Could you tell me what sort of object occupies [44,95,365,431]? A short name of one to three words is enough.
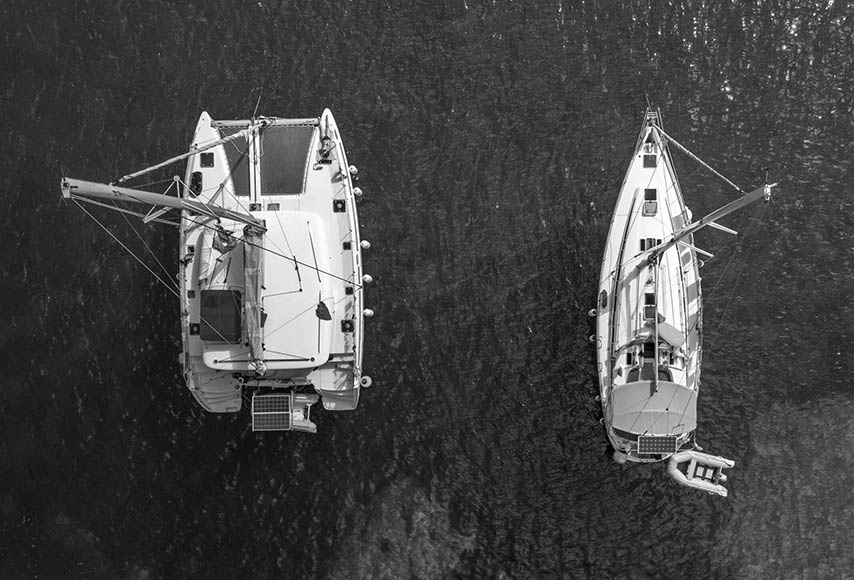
boat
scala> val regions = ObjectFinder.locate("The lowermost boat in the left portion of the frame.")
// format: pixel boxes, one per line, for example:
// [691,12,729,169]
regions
[249,392,321,433]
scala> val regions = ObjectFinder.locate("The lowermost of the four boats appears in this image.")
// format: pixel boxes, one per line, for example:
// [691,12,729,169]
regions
[666,451,736,501]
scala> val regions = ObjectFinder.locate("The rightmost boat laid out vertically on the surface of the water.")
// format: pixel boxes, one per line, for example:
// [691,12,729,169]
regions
[596,95,782,462]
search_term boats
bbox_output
[249,392,321,433]
[596,95,782,462]
[666,451,736,501]
[44,95,365,431]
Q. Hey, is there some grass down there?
No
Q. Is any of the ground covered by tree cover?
No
